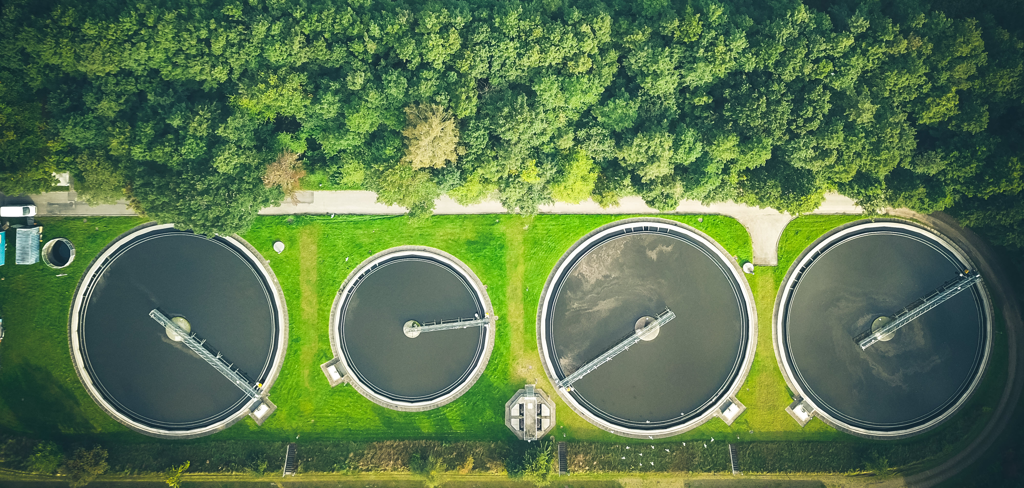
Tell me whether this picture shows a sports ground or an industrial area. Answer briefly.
industrial area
